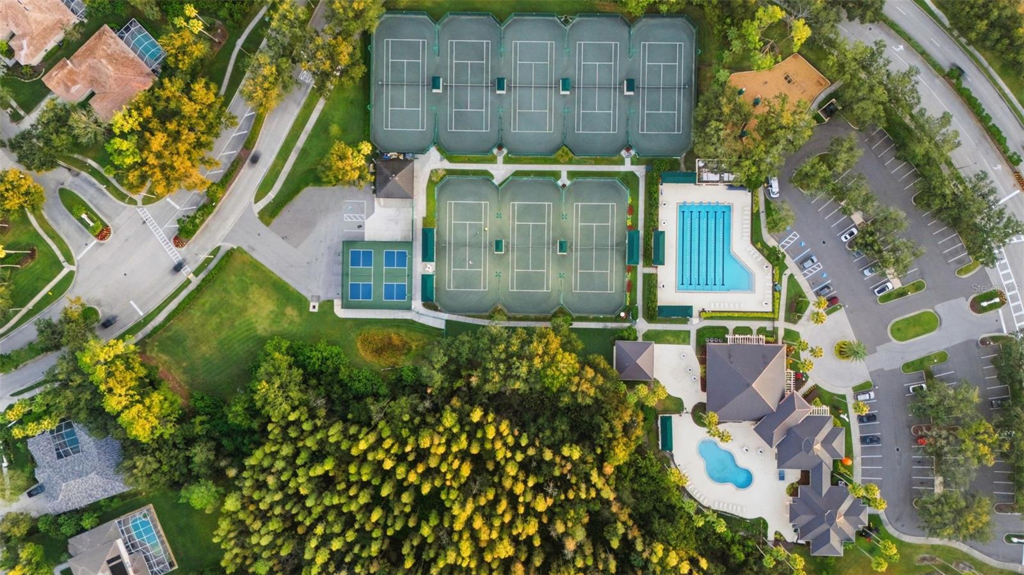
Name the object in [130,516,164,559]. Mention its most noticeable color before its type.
blue swimming pool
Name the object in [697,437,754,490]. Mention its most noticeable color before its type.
blue swimming pool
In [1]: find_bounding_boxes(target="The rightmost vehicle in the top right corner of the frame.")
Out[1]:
[947,63,965,80]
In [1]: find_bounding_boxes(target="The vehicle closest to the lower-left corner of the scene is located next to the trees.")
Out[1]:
[25,482,45,497]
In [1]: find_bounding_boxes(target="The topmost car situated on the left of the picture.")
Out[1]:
[248,148,262,166]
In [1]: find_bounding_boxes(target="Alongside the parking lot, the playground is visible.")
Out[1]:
[728,53,830,146]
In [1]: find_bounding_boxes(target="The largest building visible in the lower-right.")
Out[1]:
[704,343,868,556]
